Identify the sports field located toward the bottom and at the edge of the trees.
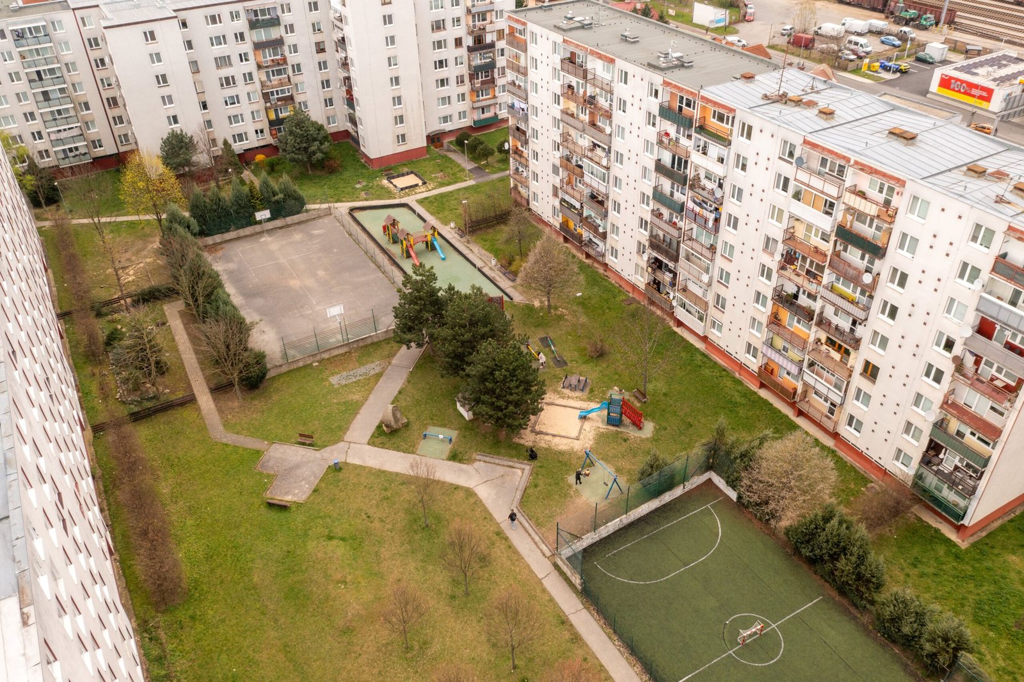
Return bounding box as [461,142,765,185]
[558,477,923,682]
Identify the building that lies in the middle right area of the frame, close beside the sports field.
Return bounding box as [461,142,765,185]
[505,0,1024,541]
